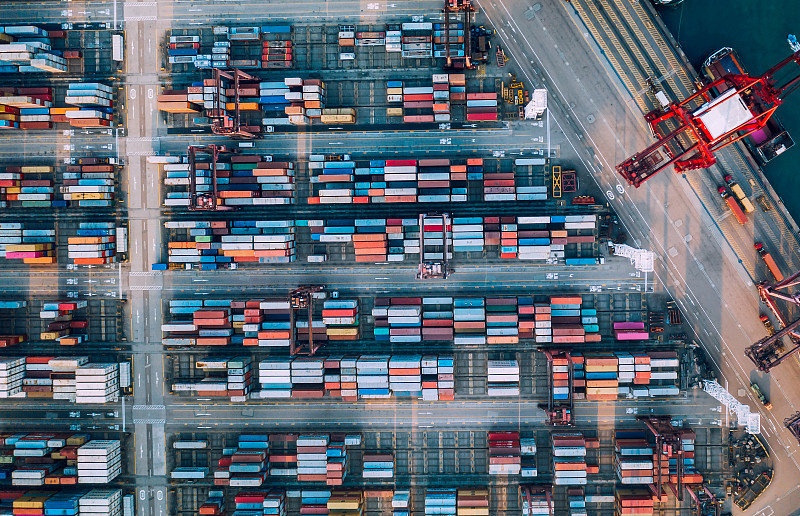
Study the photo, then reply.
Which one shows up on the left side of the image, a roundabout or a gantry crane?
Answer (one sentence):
Looking on the left side of the image, you will find a gantry crane.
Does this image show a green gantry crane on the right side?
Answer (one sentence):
No, on the right side there is no green gantry crane.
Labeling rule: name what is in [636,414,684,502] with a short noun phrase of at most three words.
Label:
container crane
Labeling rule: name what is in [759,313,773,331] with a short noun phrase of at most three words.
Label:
vehicle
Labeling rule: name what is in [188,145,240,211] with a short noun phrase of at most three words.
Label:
container crane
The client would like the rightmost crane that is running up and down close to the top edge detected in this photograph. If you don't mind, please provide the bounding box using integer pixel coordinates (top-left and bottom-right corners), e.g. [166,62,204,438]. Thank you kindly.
[441,0,472,72]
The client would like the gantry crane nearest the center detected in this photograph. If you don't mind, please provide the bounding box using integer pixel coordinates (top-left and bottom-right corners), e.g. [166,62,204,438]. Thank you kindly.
[417,208,452,278]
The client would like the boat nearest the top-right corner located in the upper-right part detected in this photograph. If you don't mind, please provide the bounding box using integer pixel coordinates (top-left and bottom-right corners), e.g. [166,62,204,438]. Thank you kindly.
[785,31,799,53]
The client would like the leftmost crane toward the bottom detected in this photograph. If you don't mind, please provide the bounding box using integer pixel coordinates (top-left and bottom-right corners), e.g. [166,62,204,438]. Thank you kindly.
[288,281,329,356]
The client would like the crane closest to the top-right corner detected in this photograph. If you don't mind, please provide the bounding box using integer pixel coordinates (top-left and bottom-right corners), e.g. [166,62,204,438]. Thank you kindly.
[617,46,800,194]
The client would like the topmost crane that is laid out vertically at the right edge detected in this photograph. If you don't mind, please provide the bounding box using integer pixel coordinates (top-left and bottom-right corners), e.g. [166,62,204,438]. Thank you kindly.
[745,252,800,378]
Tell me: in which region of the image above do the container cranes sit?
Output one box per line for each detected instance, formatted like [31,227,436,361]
[636,414,684,502]
[745,252,800,378]
[516,482,551,516]
[213,68,261,141]
[288,281,329,356]
[417,208,452,278]
[617,46,800,194]
[537,342,576,424]
[441,0,472,72]
[188,145,240,211]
